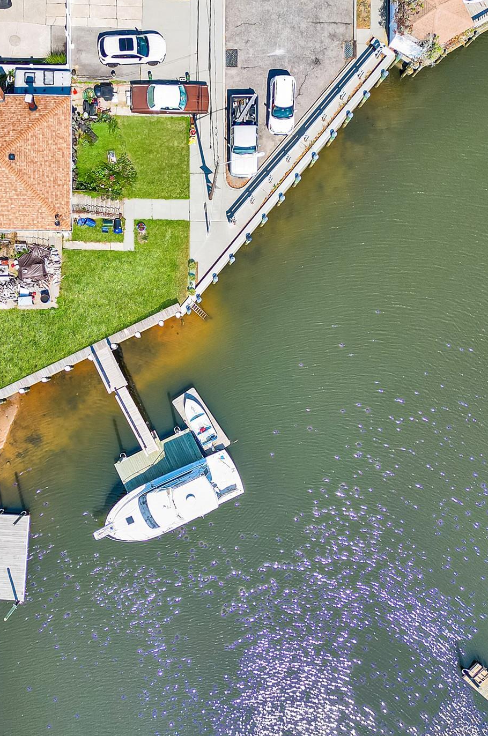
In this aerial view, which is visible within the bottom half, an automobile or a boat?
boat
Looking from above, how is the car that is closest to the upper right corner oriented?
from top to bottom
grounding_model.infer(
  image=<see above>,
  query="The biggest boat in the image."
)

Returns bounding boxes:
[92,448,245,542]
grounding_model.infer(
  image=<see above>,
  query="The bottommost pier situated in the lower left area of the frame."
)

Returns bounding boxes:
[0,514,32,602]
